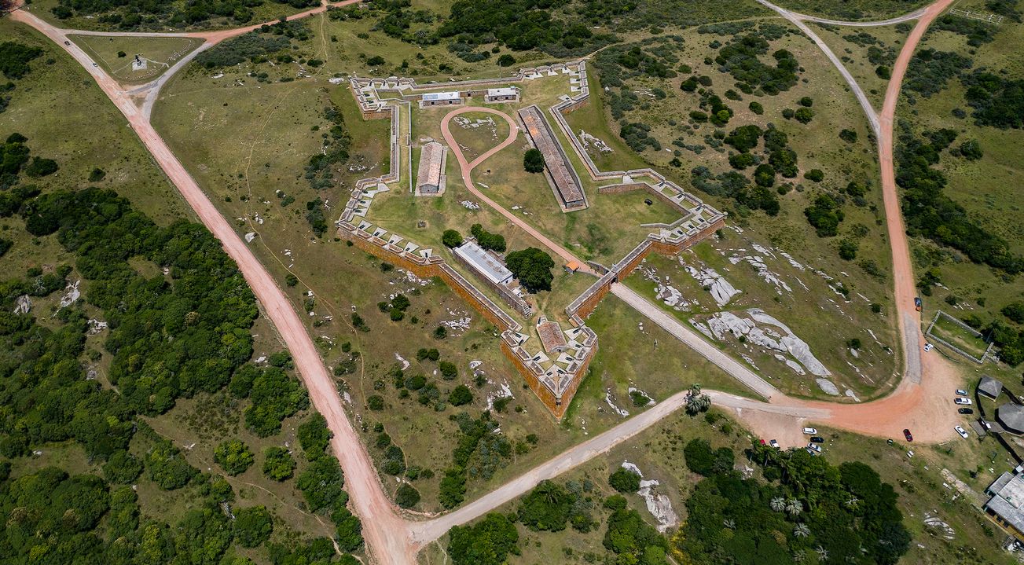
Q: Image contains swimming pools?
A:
No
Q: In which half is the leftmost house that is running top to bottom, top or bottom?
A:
top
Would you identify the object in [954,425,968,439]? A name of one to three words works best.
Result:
car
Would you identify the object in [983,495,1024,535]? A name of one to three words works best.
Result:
house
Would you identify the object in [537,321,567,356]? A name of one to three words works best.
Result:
house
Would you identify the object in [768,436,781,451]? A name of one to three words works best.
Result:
vehicle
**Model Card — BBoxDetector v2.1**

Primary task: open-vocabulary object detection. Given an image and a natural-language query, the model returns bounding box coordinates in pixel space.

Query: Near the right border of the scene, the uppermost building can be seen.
[978,376,1003,401]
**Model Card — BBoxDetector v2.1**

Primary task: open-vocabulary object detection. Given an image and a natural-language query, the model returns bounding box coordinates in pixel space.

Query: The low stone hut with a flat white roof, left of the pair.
[423,90,460,106]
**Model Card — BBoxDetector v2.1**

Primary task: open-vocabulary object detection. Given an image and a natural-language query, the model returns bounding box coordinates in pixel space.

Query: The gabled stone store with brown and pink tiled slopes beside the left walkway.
[420,141,442,193]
